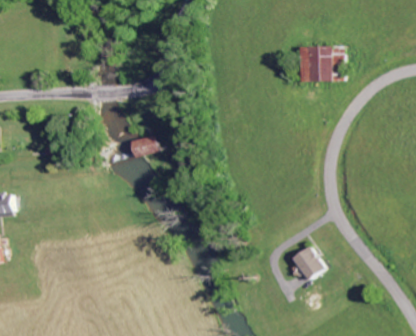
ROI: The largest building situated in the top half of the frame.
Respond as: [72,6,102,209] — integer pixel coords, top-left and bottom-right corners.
[302,46,349,84]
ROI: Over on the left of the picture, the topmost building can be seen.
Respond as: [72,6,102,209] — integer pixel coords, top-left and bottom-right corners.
[132,136,163,158]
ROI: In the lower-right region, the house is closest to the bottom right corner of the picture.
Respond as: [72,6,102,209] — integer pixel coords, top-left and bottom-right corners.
[293,246,329,280]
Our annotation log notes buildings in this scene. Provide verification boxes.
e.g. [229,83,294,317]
[132,136,163,158]
[302,46,349,84]
[0,238,12,266]
[0,192,20,218]
[293,246,329,280]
